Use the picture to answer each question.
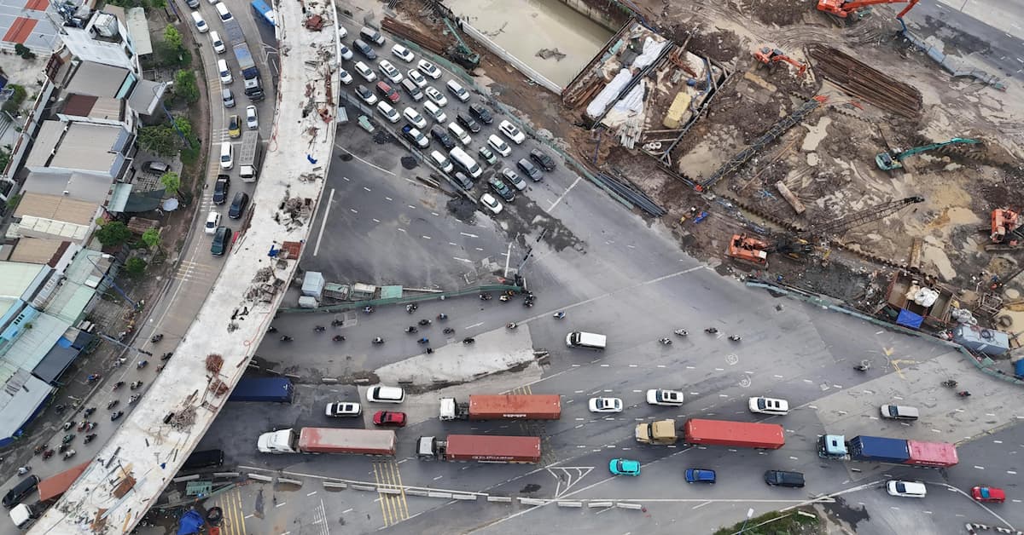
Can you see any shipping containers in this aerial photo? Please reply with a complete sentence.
Yes, the frame does contain a shipping container.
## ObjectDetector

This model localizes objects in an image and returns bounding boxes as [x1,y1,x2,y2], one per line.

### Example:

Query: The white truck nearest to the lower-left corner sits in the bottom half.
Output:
[3,503,46,532]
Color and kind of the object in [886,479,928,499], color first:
white car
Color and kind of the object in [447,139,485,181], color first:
white vehicle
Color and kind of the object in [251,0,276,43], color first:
blue bus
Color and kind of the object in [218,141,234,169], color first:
white car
